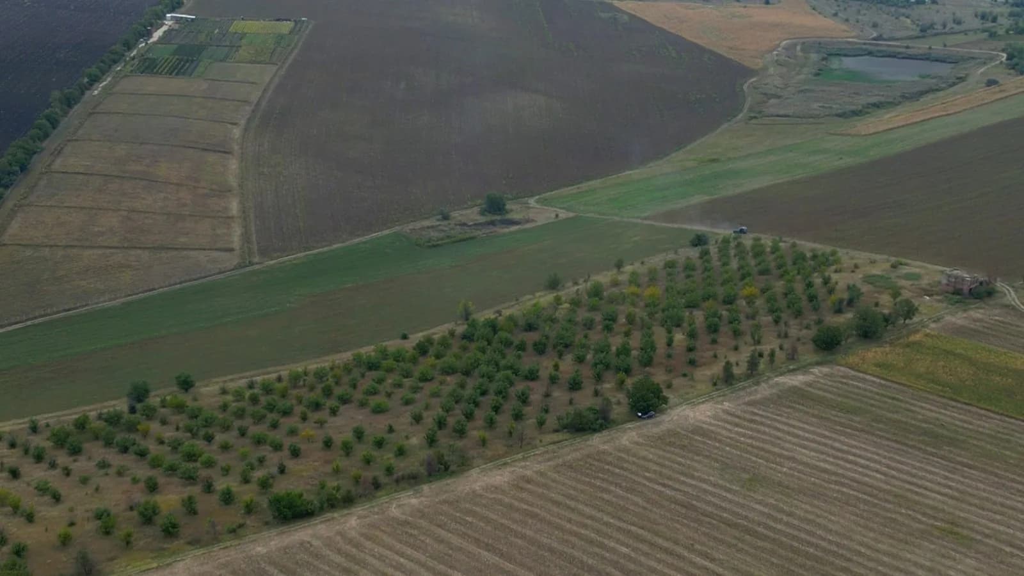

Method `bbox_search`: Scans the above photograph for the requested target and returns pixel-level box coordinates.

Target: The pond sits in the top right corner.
[820,56,959,81]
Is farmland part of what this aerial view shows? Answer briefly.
Yes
